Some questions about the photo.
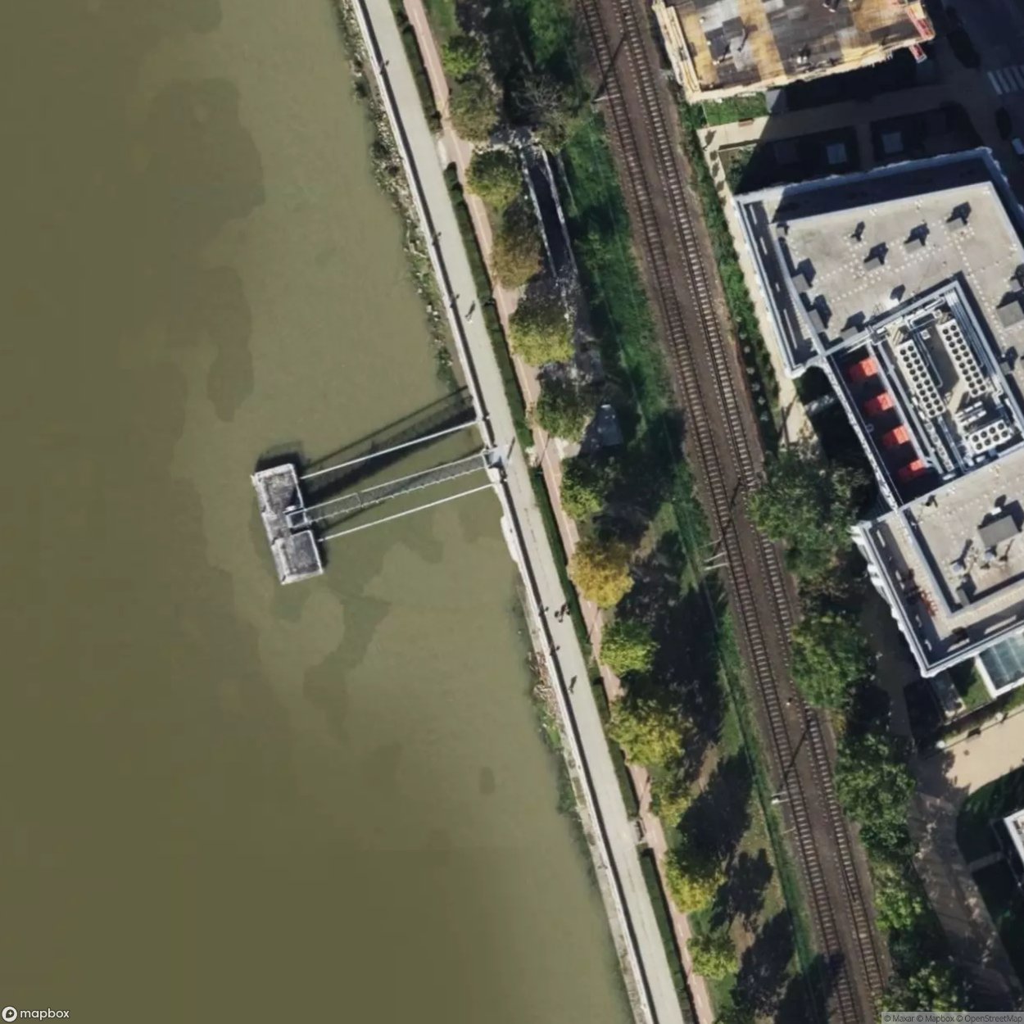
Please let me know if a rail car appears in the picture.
No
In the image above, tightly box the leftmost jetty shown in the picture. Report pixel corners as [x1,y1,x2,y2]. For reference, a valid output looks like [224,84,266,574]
[253,461,325,585]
